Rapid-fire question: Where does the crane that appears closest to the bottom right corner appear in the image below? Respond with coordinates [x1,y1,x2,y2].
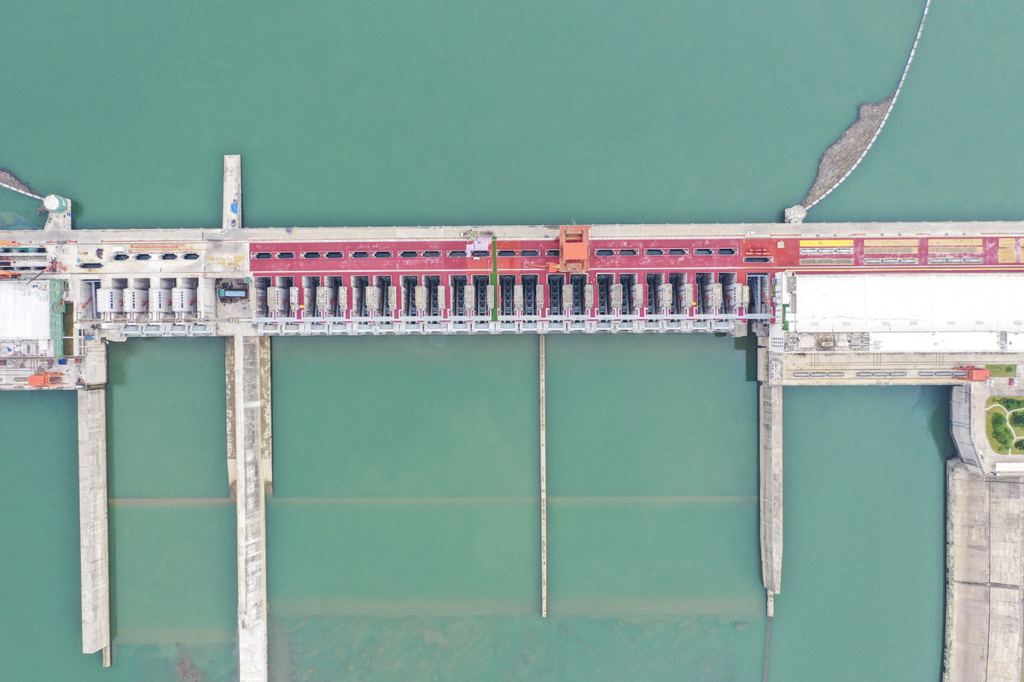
[947,366,990,381]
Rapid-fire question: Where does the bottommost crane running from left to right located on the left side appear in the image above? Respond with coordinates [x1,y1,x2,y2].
[28,372,73,387]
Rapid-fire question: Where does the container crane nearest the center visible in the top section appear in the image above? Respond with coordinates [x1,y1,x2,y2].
[524,225,591,273]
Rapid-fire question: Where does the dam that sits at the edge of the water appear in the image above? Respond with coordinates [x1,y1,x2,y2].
[0,222,1024,391]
